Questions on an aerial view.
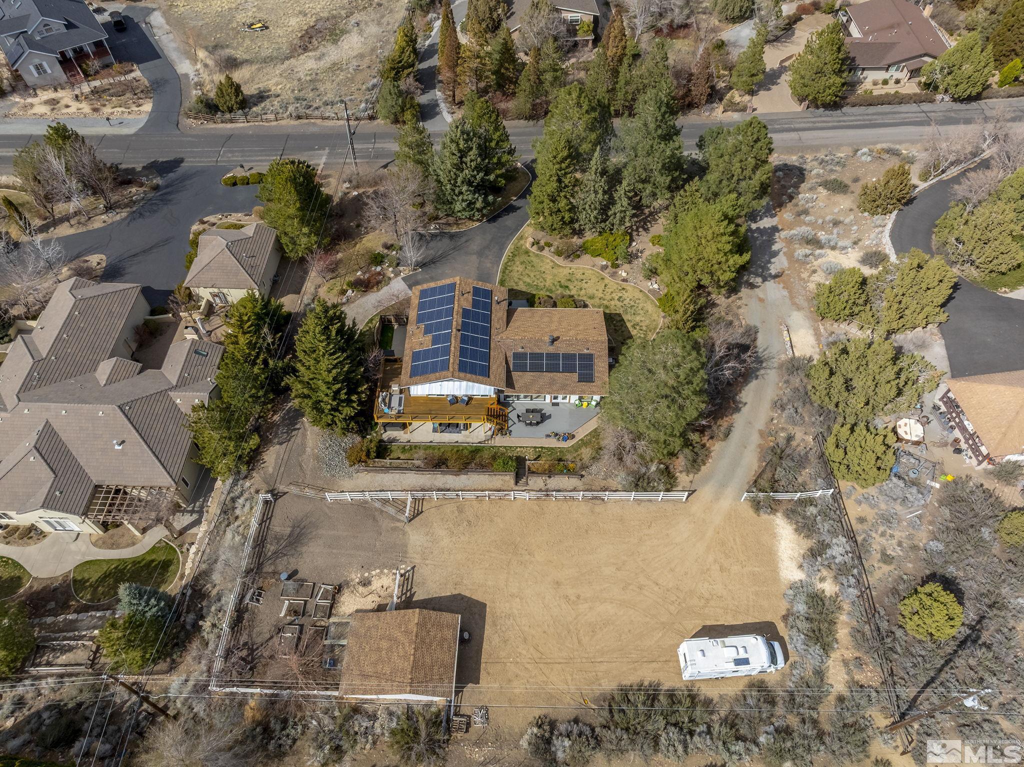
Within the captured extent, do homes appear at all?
Yes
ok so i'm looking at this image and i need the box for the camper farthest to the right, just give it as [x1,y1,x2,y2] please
[679,640,785,682]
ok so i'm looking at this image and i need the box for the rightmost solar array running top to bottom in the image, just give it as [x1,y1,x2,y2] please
[459,285,493,380]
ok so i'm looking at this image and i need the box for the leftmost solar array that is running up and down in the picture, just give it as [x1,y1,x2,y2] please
[406,282,452,380]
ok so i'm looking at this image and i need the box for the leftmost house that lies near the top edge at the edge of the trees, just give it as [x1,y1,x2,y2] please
[0,0,115,94]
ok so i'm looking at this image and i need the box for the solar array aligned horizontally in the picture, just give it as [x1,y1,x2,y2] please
[513,354,597,384]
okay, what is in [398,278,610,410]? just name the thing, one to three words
house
